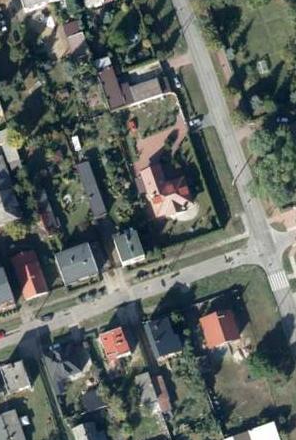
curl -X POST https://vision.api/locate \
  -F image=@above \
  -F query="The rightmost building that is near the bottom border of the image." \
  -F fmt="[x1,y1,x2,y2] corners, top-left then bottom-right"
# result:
[248,421,280,440]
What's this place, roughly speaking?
residential area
